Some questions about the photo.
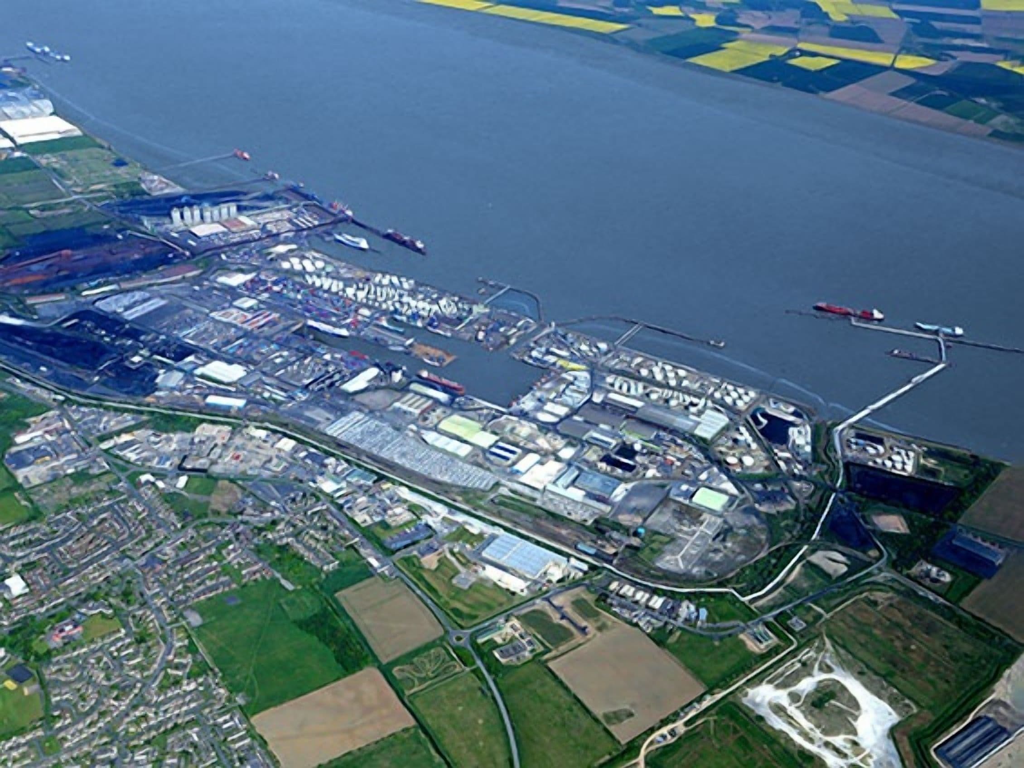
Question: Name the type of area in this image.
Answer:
port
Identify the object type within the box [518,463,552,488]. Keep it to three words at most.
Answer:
building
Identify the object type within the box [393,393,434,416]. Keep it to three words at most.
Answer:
shed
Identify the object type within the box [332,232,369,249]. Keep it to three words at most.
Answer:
ship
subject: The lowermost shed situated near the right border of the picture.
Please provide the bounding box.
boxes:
[934,716,1010,768]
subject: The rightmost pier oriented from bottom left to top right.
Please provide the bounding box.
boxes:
[833,363,947,430]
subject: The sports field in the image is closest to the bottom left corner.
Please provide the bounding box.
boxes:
[0,677,44,740]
